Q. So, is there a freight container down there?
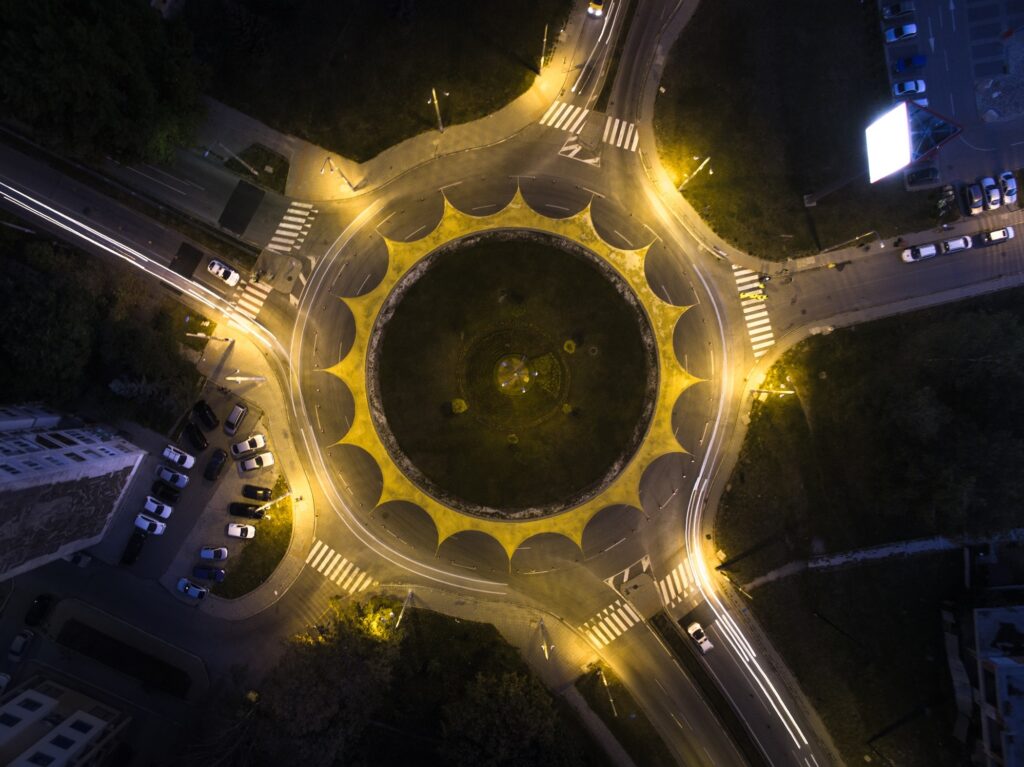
No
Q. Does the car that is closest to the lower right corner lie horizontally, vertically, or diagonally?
diagonally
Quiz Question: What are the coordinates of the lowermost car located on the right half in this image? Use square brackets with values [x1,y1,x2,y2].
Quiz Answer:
[686,621,714,654]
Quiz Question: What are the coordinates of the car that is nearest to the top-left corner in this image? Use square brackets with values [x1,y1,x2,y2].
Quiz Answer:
[206,259,239,284]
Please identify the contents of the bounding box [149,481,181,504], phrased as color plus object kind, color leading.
black car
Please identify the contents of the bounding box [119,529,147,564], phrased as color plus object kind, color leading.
black car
